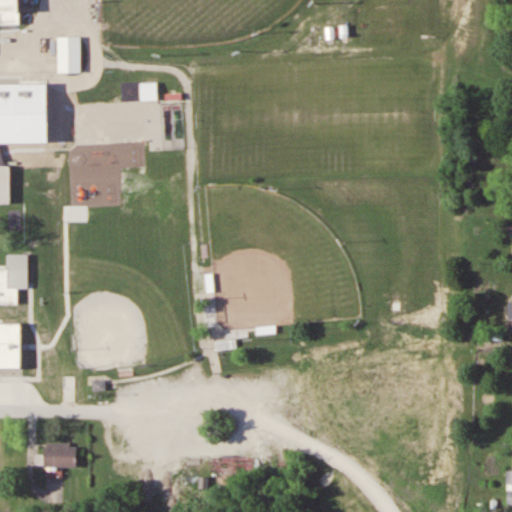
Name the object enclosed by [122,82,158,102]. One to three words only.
shed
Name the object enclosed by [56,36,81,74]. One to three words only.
barn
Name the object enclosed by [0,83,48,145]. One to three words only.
building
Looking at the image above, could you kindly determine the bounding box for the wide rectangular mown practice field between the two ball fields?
[197,55,442,180]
